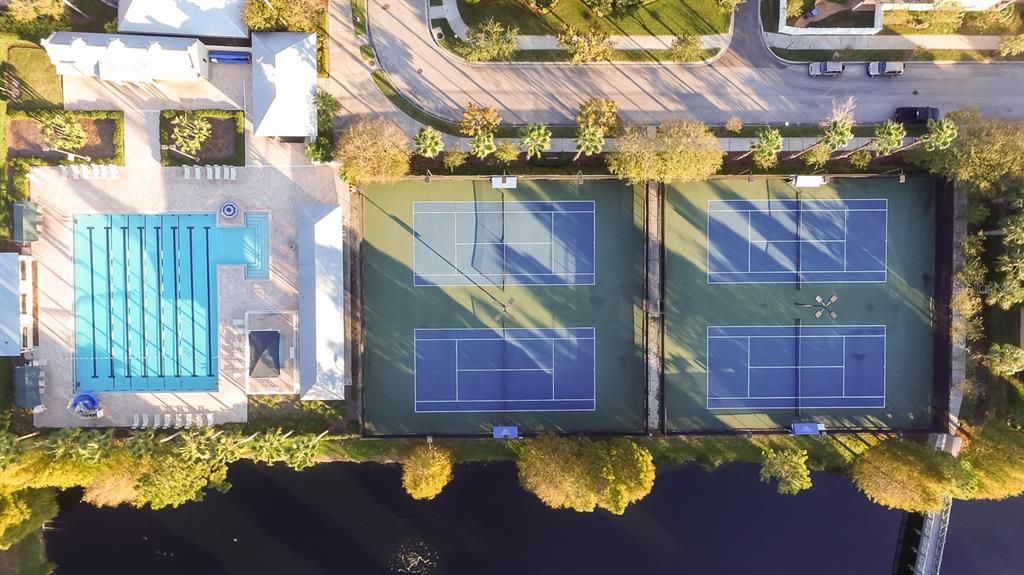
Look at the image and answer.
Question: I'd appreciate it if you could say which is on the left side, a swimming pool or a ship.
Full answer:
The one visible on the left side is a swimming pool.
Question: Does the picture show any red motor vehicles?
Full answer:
No, no red motor vehicle is visible in the view.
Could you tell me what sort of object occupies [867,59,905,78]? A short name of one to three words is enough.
car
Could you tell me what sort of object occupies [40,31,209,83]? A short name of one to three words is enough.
building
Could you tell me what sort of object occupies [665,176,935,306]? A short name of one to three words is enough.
tennis court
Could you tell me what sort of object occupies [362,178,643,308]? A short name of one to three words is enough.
tennis court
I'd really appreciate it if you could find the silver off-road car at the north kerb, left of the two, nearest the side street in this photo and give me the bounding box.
[808,59,844,78]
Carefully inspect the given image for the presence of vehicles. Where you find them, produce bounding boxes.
[808,59,844,78]
[895,105,942,124]
[867,59,905,78]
